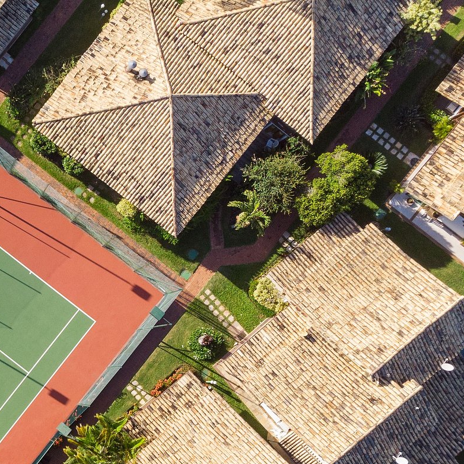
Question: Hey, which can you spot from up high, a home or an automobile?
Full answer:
Looking from above, you can make out a home.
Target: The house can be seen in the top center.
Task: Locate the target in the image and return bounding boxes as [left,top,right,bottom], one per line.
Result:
[31,0,408,239]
